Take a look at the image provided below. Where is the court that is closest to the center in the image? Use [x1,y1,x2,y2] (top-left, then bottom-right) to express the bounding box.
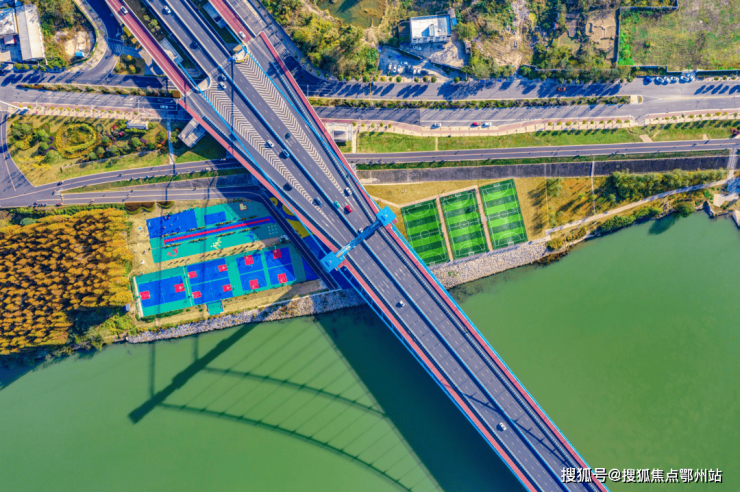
[264,247,295,285]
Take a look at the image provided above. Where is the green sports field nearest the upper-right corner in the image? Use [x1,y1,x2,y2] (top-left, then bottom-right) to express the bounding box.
[479,178,528,249]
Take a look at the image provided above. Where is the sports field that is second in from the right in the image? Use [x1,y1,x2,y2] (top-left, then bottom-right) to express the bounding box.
[439,189,490,259]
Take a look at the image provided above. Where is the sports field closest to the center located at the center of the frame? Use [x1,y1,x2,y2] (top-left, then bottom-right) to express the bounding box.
[401,199,449,266]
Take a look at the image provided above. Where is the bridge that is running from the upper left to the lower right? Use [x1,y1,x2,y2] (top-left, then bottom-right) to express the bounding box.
[106,0,609,492]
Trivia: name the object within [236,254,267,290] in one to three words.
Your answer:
basketball court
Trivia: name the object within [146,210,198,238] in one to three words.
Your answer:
sports court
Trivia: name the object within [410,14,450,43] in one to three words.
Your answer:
building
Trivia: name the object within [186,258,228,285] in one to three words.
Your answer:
basketball court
